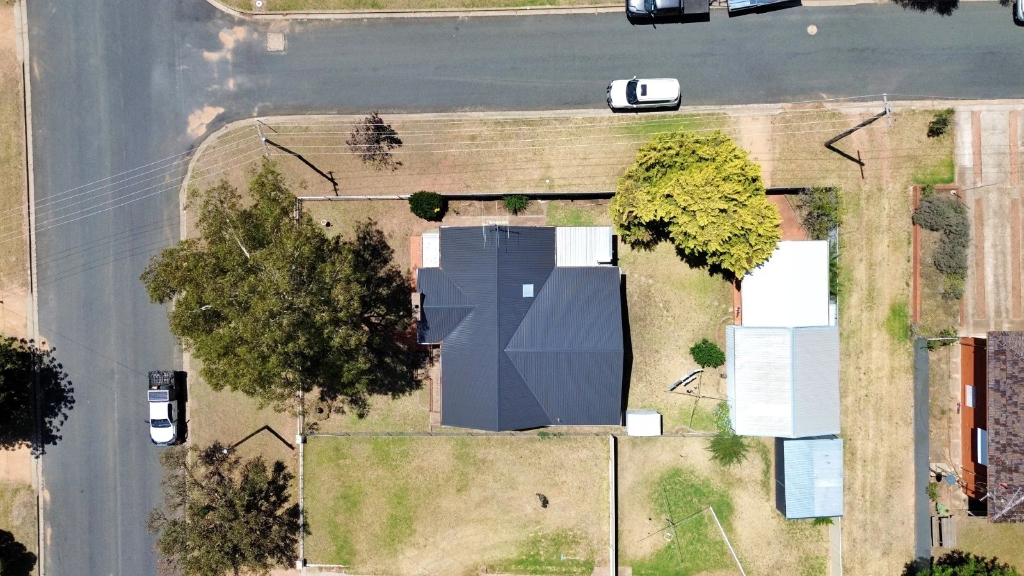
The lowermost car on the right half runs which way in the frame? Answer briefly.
from left to right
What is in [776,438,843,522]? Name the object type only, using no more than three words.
shed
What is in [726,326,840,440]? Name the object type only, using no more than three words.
shed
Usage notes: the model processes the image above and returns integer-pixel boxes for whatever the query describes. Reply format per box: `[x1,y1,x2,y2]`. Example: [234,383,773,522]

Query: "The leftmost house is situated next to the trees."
[412,223,625,433]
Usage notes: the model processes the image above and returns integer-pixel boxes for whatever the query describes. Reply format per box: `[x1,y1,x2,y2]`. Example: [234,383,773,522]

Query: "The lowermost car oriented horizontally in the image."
[606,76,679,110]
